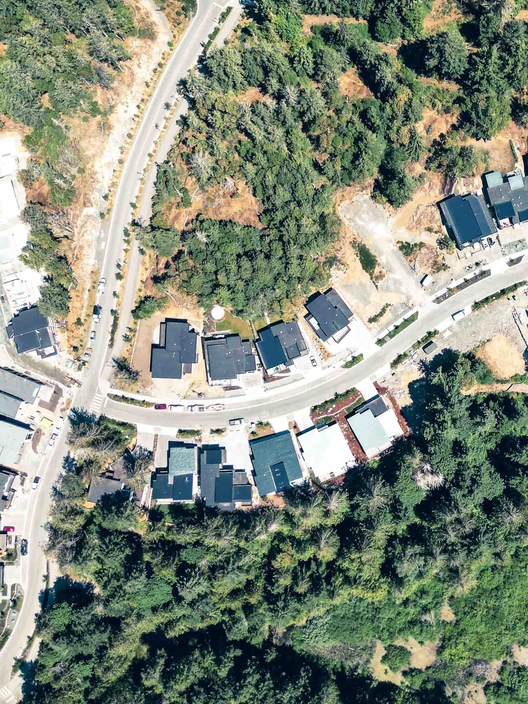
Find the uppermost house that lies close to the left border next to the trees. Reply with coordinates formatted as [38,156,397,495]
[7,308,58,359]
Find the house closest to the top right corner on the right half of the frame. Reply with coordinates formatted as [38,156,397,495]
[485,172,528,224]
